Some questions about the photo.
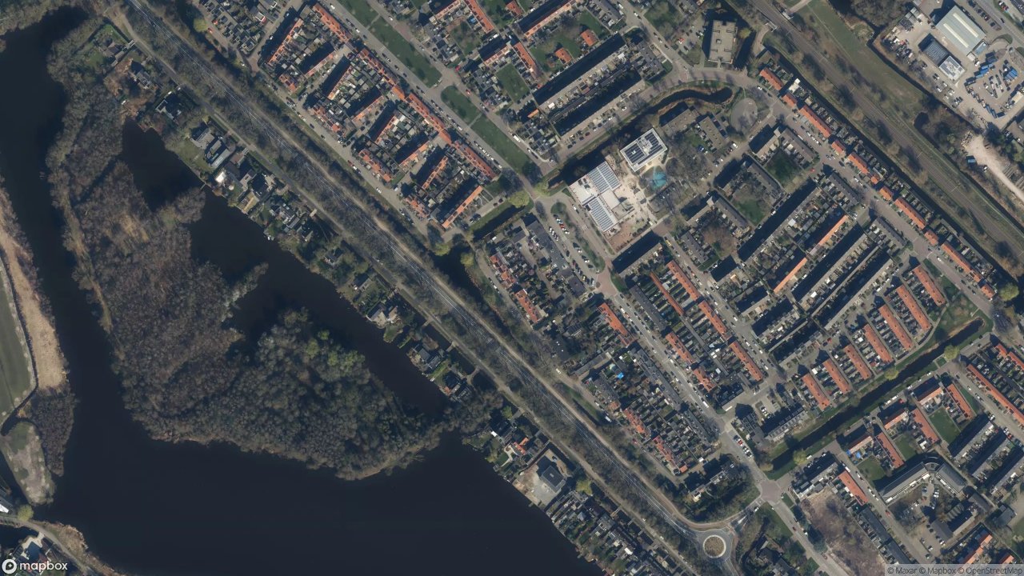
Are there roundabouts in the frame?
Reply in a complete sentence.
Yes, you can see a roundabout in this photo.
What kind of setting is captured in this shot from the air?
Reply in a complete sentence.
This looks like a residential area.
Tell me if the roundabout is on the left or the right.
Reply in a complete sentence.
You can find the roundabout on the right side of the picture.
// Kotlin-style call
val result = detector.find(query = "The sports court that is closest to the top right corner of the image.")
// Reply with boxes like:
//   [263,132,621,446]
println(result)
[731,98,758,132]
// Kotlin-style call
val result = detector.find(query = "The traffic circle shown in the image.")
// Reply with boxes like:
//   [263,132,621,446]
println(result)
[677,516,747,567]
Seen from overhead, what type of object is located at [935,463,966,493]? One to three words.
house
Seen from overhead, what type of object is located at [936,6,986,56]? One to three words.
building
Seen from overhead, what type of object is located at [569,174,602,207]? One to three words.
building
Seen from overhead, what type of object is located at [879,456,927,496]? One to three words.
house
